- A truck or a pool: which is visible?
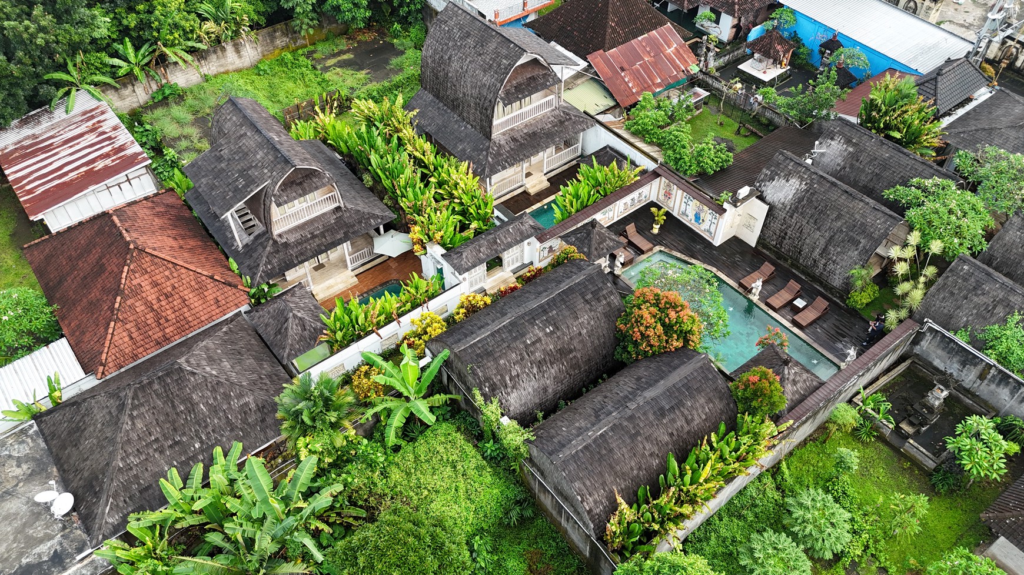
pool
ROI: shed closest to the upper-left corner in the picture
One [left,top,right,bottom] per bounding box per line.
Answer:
[0,84,159,235]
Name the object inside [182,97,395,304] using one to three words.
house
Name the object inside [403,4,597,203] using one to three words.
house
